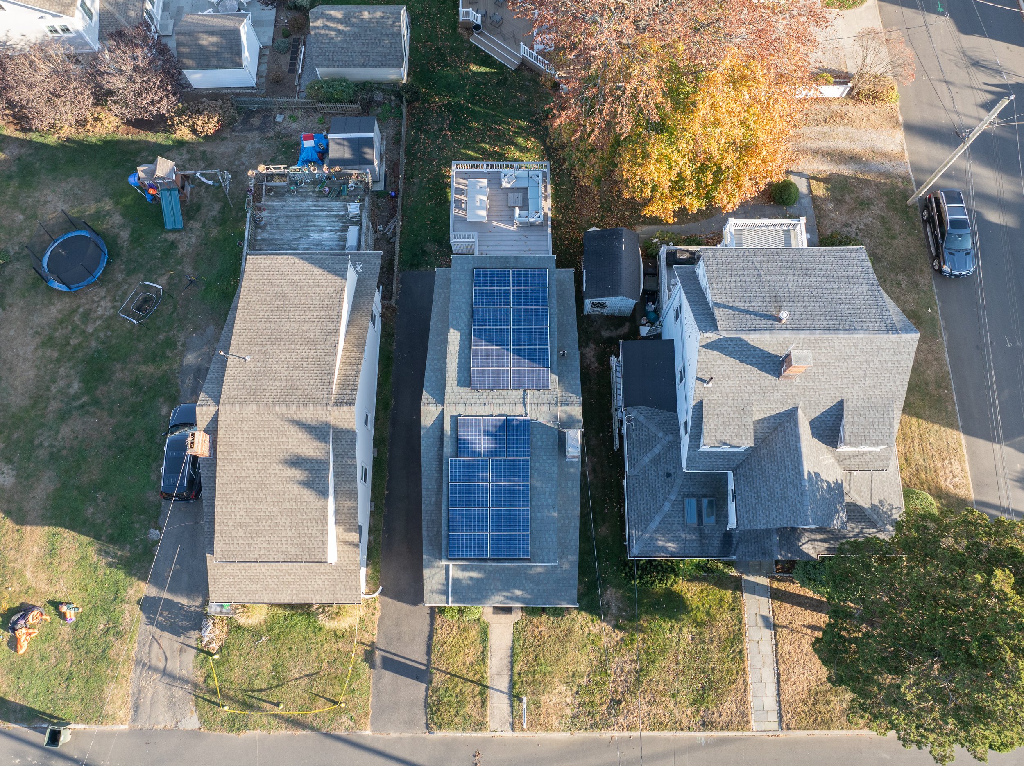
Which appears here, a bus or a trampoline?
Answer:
trampoline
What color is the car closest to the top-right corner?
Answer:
blue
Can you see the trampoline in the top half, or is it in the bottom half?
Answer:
top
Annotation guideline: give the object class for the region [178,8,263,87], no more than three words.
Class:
building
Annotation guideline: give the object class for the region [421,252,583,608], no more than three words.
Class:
house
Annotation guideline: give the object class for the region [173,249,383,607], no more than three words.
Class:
house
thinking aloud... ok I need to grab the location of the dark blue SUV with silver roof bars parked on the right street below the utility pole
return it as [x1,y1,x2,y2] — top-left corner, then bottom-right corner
[920,190,978,282]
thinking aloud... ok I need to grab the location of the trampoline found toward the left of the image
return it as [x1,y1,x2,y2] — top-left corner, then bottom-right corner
[14,207,120,299]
